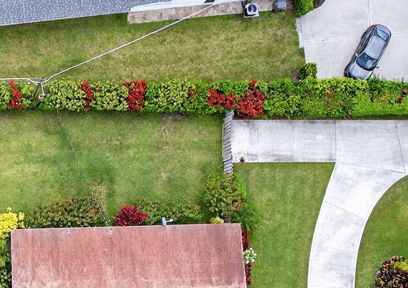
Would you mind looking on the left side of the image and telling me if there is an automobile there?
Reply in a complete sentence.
No, no automobile can be made out on the left side of the image.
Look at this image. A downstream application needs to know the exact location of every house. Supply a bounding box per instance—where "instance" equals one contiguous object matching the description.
[10,217,247,288]
[0,0,270,26]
